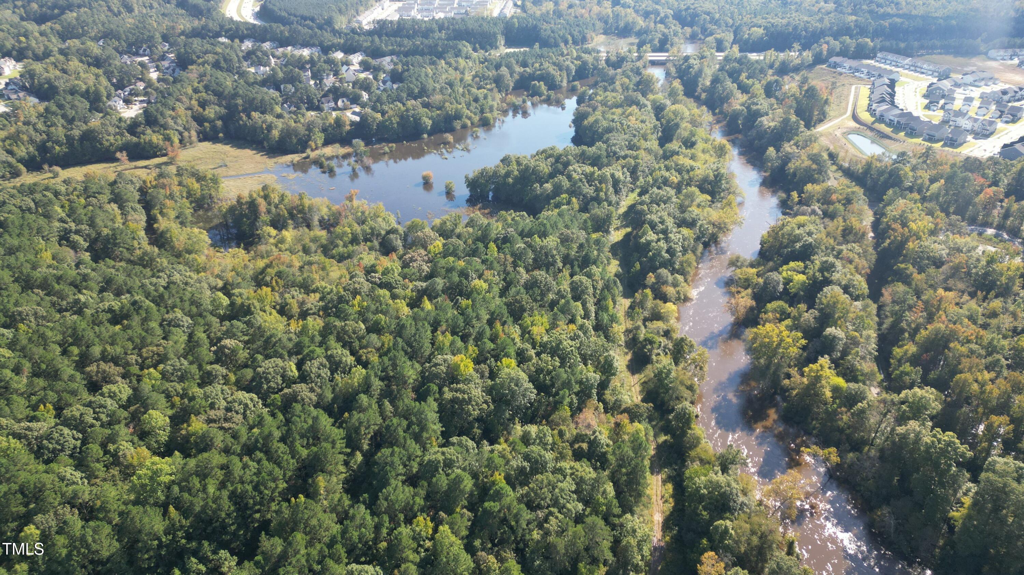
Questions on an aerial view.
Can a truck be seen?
No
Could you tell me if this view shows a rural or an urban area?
rural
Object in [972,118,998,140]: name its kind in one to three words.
house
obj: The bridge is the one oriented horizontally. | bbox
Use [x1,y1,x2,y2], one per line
[596,51,791,65]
